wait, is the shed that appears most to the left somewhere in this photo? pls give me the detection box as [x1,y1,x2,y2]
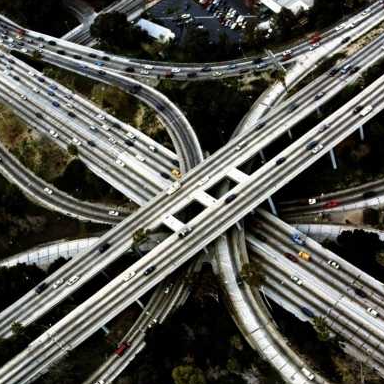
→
[135,25,176,46]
